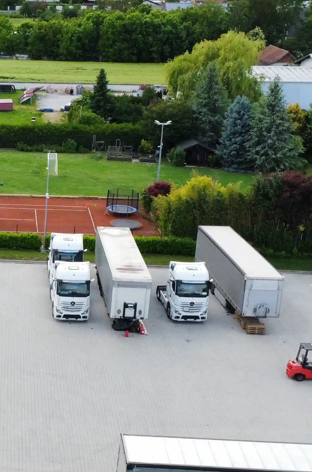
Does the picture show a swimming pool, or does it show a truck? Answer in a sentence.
Of the two, only a truck appears.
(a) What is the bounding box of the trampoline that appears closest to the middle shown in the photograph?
[110,215,143,232]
